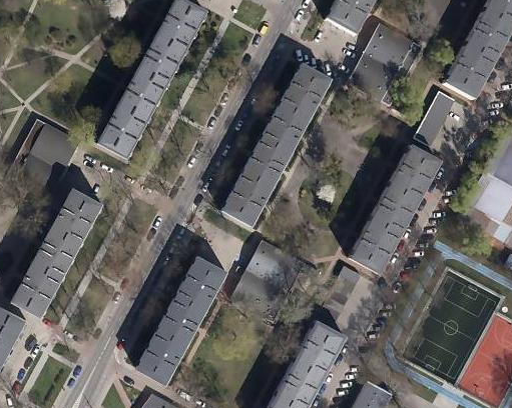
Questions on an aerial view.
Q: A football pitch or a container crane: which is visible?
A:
football pitch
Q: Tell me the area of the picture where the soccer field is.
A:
bottom right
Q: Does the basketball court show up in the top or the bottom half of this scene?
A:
bottom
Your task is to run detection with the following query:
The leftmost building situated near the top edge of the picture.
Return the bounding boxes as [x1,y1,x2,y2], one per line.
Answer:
[97,0,208,163]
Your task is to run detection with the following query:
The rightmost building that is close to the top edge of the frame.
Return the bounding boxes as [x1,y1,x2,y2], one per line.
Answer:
[444,0,512,102]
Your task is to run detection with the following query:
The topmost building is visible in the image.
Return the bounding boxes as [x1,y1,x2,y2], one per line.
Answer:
[327,0,378,37]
